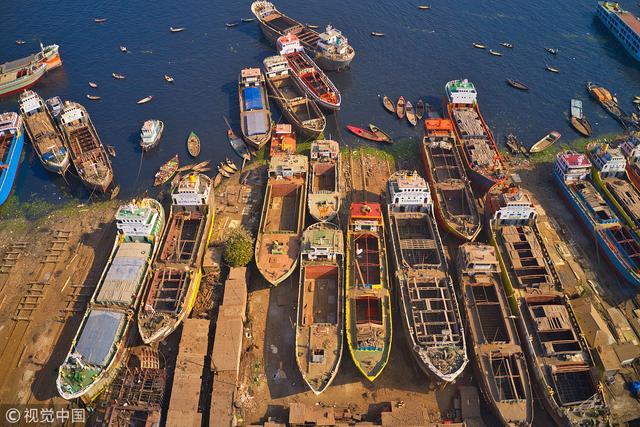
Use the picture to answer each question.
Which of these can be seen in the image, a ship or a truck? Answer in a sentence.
Looking from above, you can make out a ship.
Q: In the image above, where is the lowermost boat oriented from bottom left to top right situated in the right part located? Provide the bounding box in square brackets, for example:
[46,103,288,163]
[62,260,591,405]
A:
[530,129,564,152]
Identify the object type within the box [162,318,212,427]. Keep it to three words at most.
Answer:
shed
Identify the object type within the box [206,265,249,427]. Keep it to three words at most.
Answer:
shed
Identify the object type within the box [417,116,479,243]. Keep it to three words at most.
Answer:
ship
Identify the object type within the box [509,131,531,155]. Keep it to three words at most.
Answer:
boat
